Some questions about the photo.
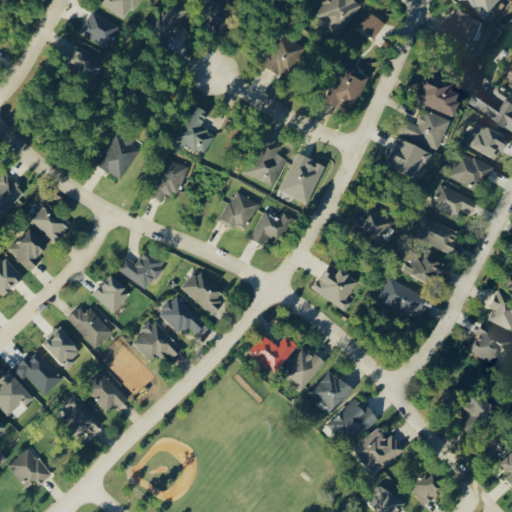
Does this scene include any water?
No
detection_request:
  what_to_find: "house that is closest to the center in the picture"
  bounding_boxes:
[248,216,288,250]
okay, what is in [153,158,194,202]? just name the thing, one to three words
house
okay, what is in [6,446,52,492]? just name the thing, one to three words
house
